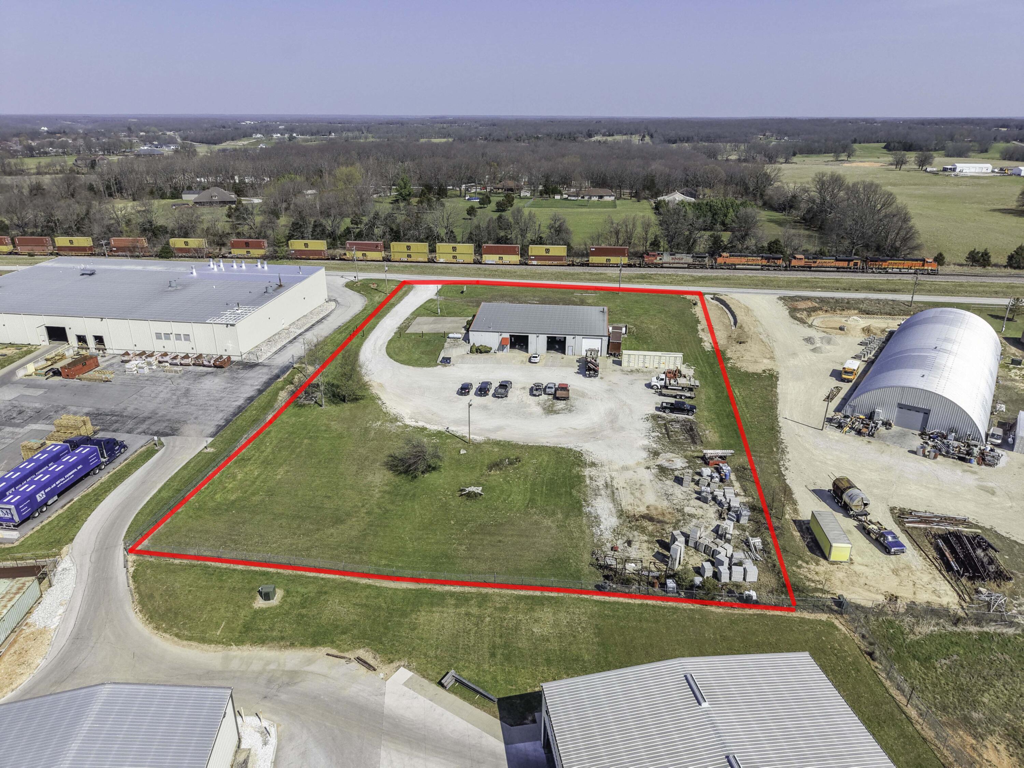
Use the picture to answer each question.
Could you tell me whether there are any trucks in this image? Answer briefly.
Yes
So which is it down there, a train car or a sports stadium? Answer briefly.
train car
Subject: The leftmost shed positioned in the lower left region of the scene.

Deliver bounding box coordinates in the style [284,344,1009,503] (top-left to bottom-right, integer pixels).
[0,573,44,650]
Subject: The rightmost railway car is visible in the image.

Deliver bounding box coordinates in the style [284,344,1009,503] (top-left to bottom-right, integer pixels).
[868,253,940,270]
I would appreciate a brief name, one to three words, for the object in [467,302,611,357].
building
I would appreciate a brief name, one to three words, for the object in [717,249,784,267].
rail car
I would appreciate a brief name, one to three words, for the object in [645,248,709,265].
rail car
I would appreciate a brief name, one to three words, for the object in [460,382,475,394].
vehicle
